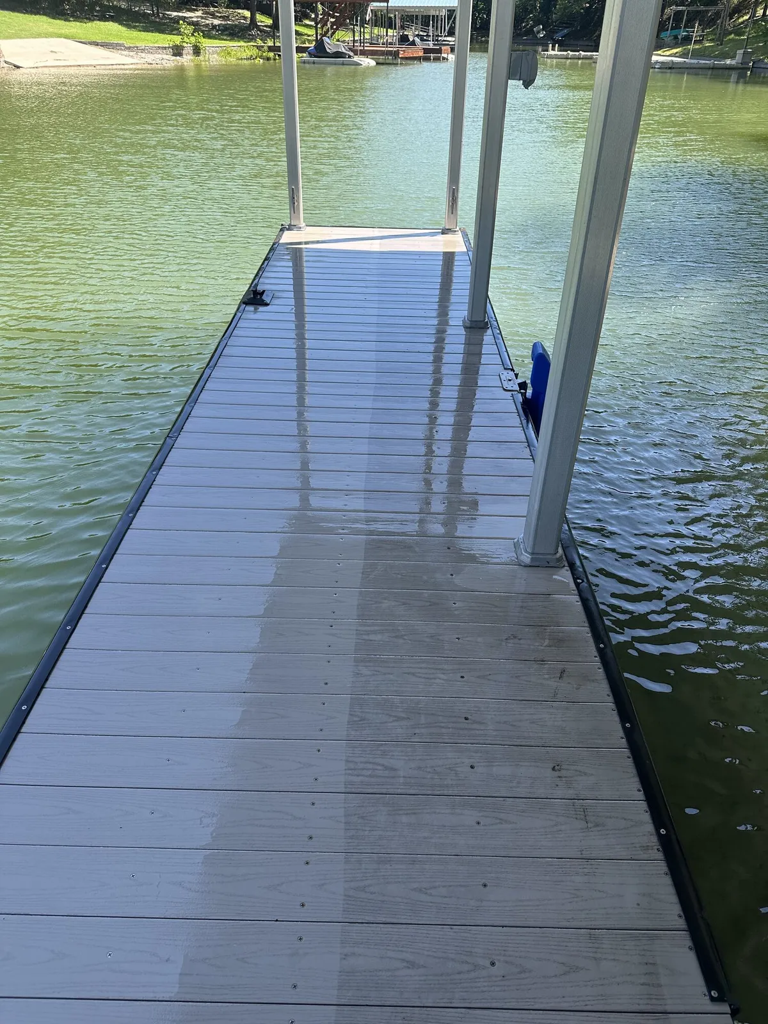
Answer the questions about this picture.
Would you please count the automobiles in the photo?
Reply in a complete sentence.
There are no automobiles in this view.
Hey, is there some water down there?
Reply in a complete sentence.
Yes, there is water in the image.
